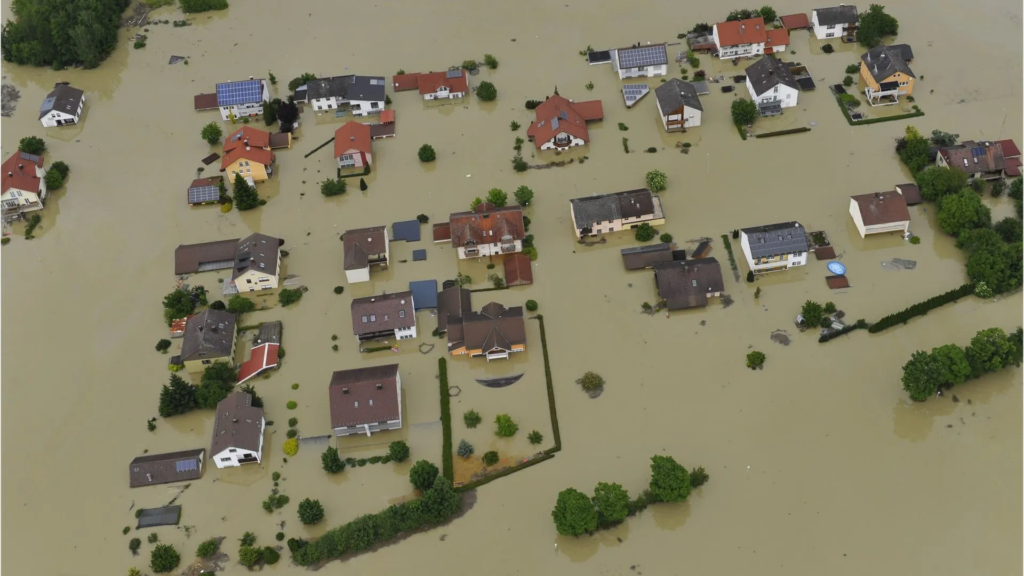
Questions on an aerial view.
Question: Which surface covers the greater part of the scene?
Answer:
water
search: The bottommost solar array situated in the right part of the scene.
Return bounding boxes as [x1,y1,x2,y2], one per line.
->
[749,229,809,258]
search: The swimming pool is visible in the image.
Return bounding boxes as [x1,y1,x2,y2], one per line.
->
[827,260,846,274]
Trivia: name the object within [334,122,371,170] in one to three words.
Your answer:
house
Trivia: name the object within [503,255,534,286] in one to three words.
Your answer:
shed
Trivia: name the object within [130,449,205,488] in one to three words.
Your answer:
building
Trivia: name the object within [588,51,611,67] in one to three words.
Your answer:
building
